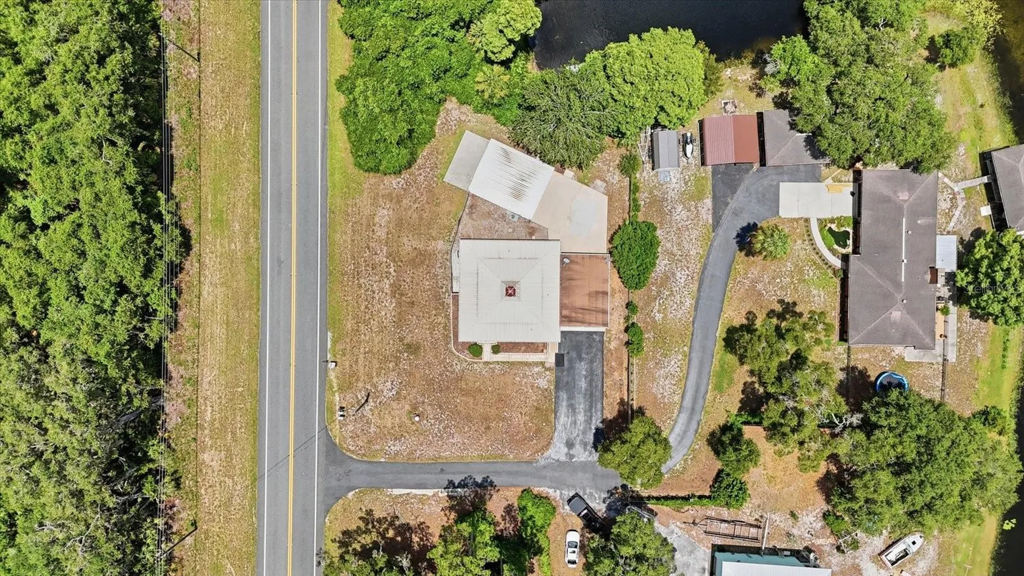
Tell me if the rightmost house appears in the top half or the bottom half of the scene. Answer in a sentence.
The rightmost house is in the top half of the image.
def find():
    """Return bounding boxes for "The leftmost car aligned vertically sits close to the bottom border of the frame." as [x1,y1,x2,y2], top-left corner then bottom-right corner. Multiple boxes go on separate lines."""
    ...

[564,530,581,570]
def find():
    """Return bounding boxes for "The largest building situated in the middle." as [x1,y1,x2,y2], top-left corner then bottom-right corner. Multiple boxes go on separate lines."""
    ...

[458,238,609,344]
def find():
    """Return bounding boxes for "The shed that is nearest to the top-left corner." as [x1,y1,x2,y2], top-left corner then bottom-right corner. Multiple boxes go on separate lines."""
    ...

[469,139,554,219]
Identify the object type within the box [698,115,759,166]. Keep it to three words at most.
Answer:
barn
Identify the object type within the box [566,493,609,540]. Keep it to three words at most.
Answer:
truck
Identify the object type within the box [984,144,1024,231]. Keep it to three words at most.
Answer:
house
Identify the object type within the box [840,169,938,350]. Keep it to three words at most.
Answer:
house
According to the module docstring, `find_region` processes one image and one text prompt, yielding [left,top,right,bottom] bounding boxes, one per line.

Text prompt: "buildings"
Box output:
[760,109,832,166]
[698,115,759,166]
[651,130,679,171]
[469,139,554,219]
[458,238,609,344]
[714,550,831,576]
[840,169,938,350]
[984,144,1024,231]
